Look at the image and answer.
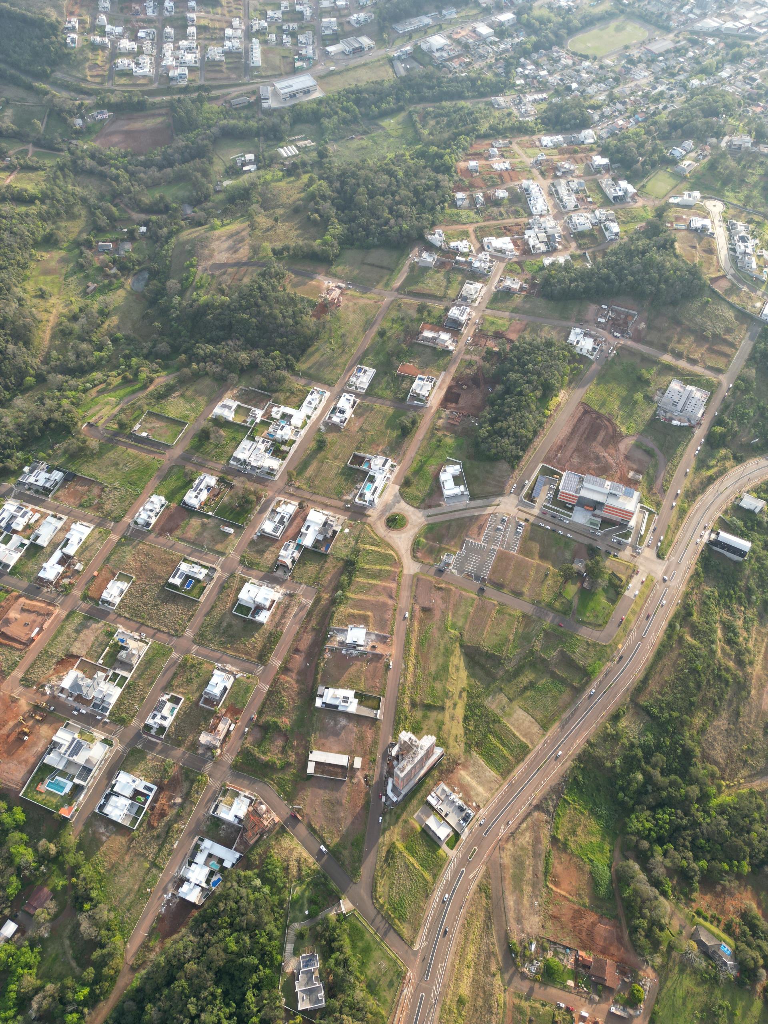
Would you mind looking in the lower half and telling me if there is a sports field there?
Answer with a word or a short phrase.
No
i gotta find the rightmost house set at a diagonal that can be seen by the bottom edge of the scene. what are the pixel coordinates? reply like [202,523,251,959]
[688,924,740,973]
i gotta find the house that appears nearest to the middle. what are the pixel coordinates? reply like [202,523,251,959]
[364,455,394,506]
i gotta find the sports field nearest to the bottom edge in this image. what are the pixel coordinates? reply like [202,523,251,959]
[639,169,683,198]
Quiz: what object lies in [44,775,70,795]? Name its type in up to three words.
swimming pool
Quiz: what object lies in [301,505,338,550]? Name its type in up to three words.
house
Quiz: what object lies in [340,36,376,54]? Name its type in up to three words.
building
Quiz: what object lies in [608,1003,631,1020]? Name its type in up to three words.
vehicle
